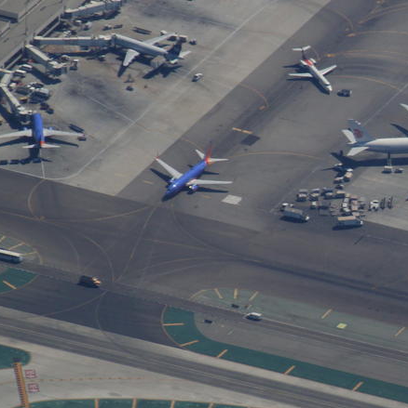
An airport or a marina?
airport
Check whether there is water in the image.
No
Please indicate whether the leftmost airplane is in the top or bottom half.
top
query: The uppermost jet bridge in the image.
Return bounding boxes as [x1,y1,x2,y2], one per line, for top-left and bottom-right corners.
[63,0,131,25]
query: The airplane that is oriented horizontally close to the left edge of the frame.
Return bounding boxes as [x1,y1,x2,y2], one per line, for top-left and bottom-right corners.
[0,112,85,148]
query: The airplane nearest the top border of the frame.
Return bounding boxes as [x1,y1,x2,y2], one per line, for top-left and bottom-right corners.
[117,33,188,64]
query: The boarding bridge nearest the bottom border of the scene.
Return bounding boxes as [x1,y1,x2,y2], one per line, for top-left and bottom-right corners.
[0,65,29,124]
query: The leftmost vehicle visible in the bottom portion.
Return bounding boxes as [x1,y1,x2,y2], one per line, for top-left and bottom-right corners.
[0,245,23,261]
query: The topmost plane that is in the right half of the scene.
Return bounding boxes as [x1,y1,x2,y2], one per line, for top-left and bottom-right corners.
[288,49,335,94]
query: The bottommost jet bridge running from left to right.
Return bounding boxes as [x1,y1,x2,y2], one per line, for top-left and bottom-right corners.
[31,33,120,52]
